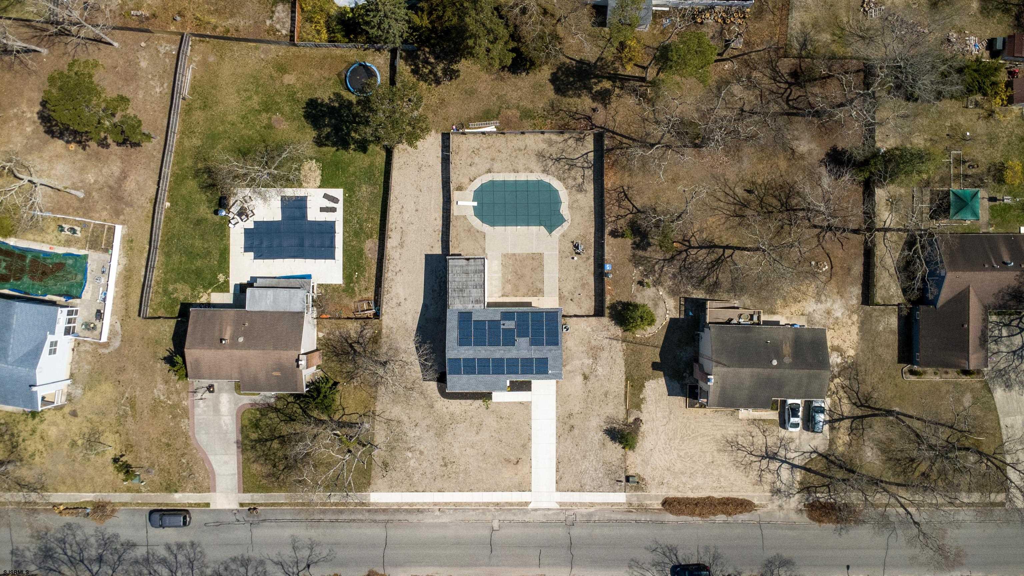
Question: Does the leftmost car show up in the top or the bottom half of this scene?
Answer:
bottom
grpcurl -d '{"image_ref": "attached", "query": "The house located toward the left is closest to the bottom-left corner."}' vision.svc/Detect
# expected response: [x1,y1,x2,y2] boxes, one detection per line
[0,287,80,417]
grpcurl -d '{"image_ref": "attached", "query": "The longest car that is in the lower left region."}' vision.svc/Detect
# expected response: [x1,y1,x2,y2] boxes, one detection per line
[147,511,189,532]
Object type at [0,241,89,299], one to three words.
swimming pool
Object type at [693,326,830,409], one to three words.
house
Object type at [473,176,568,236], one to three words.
swimming pool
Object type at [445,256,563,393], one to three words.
house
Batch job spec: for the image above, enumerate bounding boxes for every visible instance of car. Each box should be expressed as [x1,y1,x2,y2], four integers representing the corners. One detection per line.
[147,511,189,532]
[671,564,711,576]
[785,400,805,432]
[809,398,829,432]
